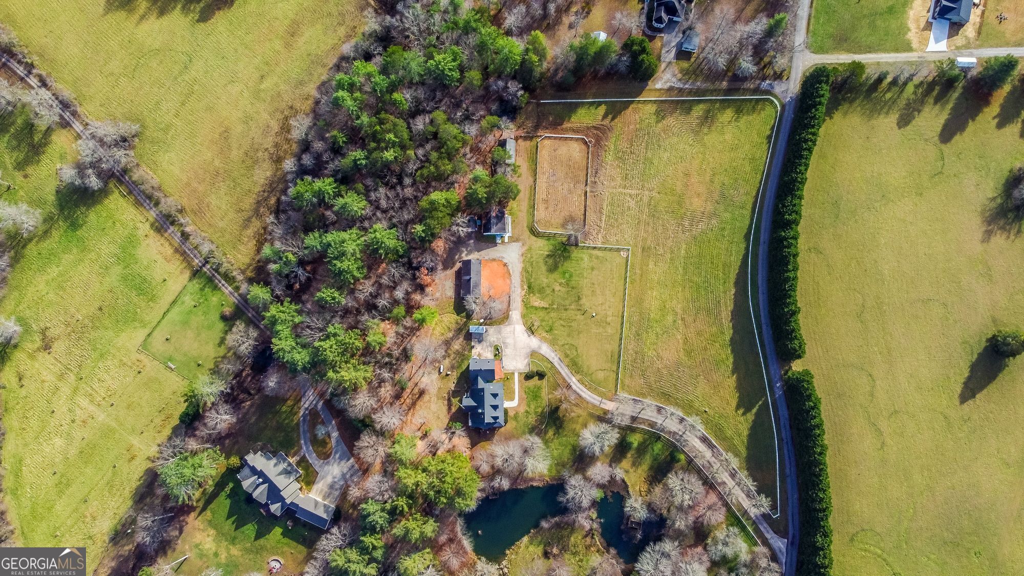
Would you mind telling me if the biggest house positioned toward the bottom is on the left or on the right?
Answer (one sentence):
The biggest house positioned toward the bottom appears in the left half of the scene.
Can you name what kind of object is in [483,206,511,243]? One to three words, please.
house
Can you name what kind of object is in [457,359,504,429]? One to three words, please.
house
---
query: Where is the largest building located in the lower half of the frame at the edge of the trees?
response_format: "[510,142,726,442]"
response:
[235,447,336,529]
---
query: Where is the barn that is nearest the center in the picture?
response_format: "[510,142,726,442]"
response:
[461,259,482,297]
